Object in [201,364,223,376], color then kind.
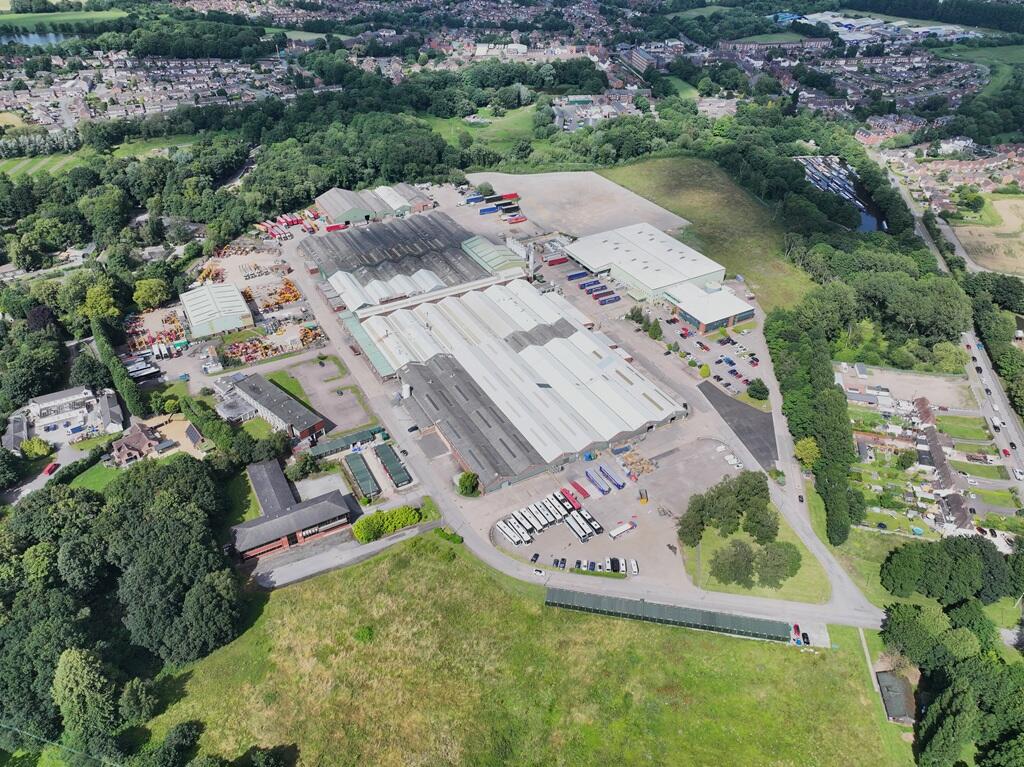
white vehicle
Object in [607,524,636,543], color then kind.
white vehicle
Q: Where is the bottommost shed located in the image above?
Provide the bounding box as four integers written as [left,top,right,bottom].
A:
[874,672,915,723]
